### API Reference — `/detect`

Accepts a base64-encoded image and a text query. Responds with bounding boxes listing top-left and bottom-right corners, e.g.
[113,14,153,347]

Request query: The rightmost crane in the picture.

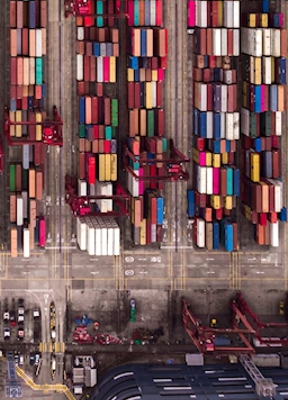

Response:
[237,291,288,343]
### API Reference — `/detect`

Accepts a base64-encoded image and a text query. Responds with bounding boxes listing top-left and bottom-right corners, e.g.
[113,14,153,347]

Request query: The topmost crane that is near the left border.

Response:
[4,109,63,145]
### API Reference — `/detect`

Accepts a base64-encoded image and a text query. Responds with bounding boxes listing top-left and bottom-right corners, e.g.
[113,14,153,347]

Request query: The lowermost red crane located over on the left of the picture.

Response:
[67,178,131,218]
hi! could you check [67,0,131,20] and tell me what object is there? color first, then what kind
red crane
